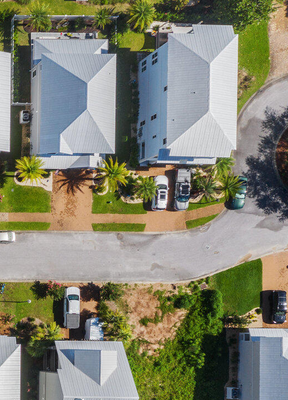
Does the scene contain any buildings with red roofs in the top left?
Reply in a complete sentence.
No, the scene shows no building with a red roof in the top left.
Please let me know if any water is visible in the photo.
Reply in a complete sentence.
No, the scene doesn't show any water.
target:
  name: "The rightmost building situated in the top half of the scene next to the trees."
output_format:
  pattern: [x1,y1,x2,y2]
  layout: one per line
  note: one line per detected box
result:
[129,24,239,167]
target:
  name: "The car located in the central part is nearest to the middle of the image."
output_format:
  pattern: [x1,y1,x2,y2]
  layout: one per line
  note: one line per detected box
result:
[151,175,171,212]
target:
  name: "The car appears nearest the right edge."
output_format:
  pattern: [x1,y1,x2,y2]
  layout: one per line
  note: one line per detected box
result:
[270,290,288,324]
